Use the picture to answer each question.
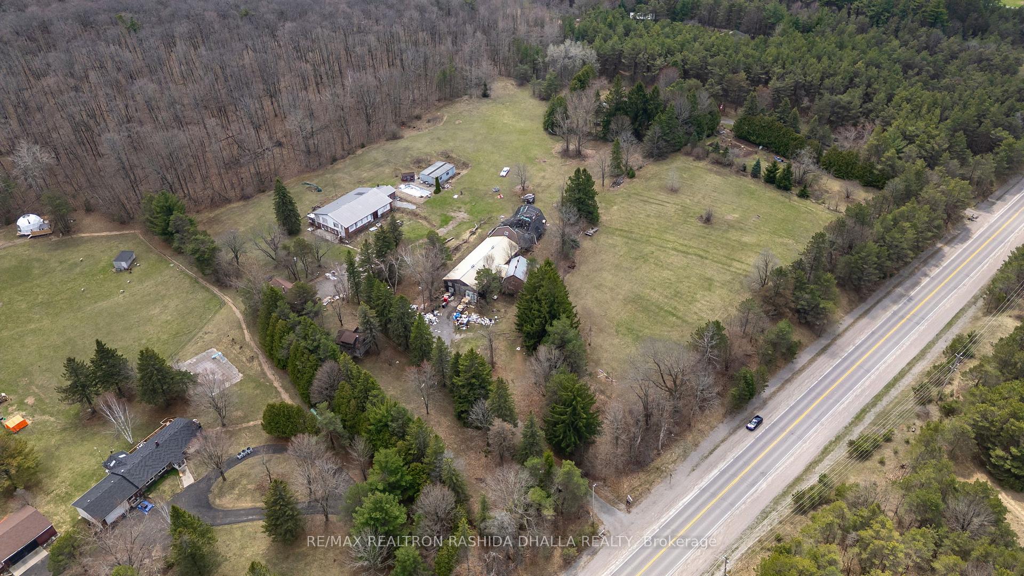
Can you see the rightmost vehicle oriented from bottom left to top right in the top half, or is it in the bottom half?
bottom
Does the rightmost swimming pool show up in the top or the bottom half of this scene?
top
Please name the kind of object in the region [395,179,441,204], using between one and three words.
swimming pool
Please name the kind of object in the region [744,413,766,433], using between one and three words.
vehicle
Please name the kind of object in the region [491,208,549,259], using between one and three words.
barn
